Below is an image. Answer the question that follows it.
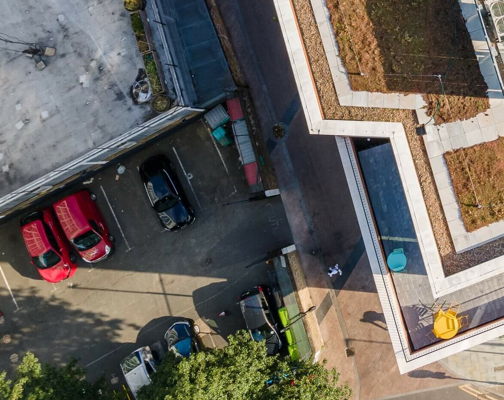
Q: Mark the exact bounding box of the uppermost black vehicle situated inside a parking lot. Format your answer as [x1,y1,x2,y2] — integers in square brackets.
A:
[140,152,199,234]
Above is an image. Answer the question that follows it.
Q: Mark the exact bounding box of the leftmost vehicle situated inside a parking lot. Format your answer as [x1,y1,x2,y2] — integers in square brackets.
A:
[16,207,76,287]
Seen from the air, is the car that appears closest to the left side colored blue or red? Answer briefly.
red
